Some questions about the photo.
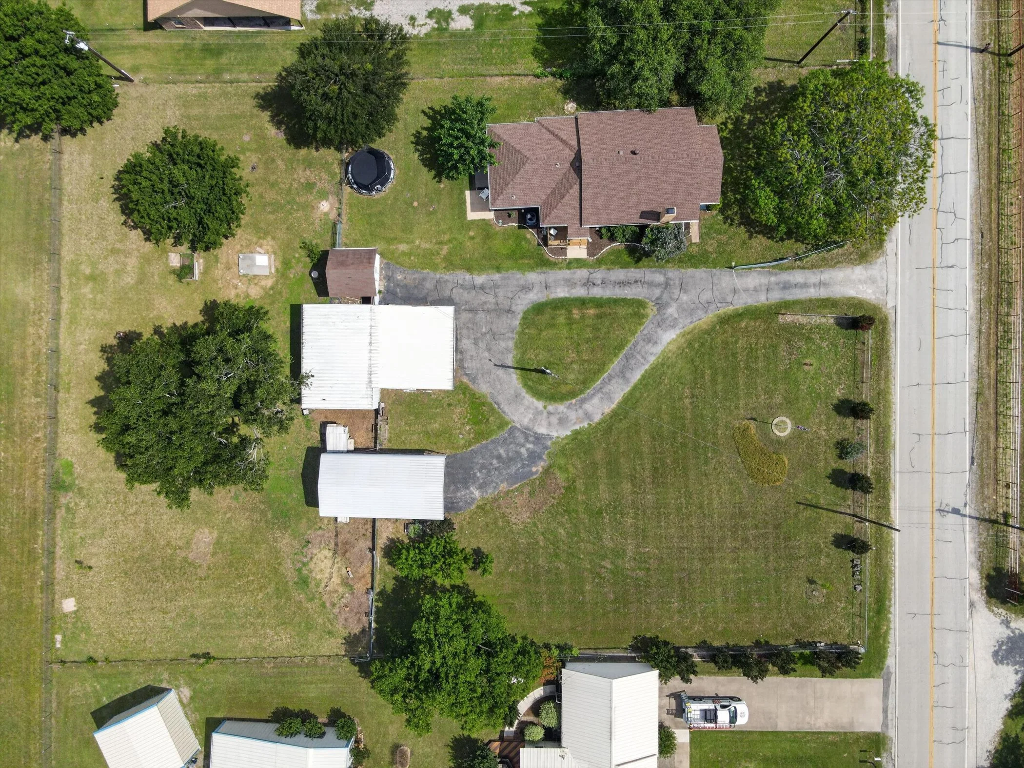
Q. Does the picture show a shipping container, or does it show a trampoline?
trampoline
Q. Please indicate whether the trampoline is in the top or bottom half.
top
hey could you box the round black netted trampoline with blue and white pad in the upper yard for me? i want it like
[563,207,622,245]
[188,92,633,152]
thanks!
[344,141,394,196]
